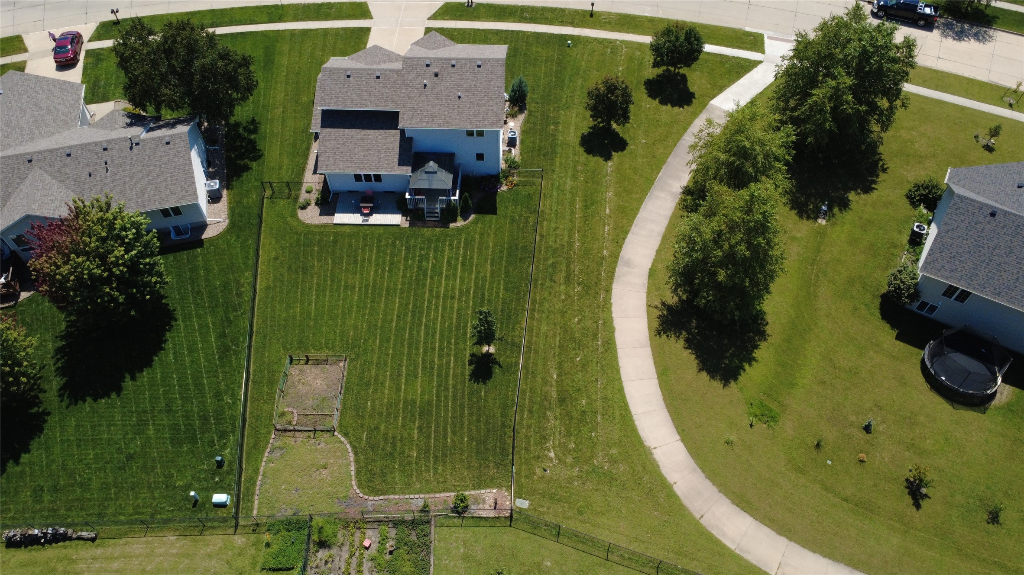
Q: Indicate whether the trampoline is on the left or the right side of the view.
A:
right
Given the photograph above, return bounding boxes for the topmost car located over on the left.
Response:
[50,30,82,64]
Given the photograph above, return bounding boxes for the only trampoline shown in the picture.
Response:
[918,314,1024,402]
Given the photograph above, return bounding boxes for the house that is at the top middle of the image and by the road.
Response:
[313,29,508,206]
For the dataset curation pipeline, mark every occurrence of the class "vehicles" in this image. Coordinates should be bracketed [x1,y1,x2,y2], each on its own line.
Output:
[872,0,940,26]
[50,30,82,64]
